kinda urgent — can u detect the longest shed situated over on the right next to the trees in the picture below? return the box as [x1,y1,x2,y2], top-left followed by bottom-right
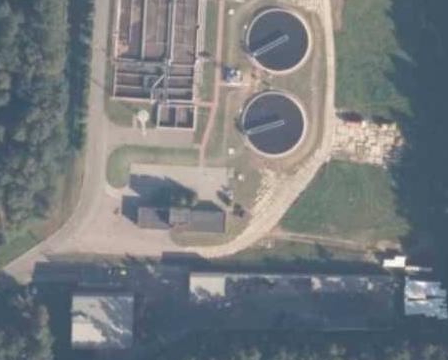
[190,272,403,328]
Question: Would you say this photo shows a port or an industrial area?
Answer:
industrial area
